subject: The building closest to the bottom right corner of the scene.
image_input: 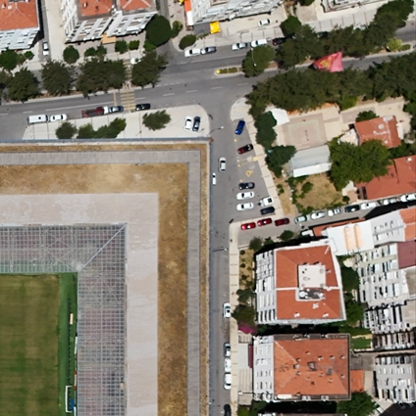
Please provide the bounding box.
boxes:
[375,356,416,406]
